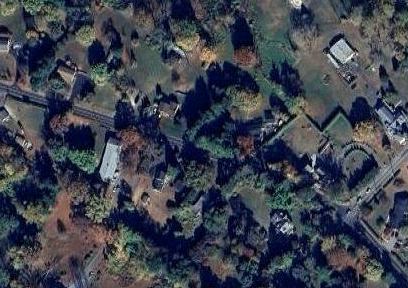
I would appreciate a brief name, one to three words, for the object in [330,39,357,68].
barn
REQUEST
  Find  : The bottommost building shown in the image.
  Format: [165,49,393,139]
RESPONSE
[267,212,296,235]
